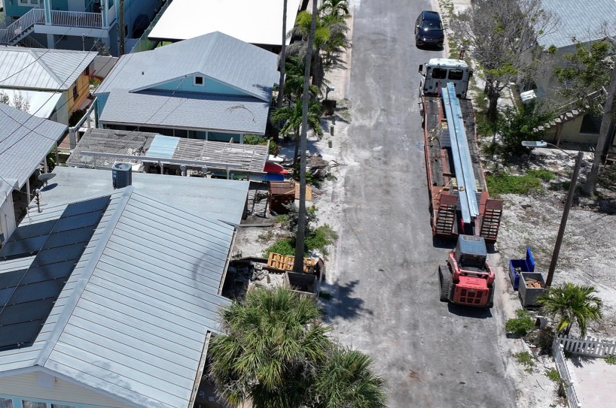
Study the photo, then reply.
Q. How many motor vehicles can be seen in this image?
3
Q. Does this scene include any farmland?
No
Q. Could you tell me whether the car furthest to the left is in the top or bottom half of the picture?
top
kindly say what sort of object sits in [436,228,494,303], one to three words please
work vehicle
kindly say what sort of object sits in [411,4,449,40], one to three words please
car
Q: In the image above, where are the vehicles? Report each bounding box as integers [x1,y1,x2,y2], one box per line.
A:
[436,228,494,303]
[411,4,449,40]
[421,58,504,249]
